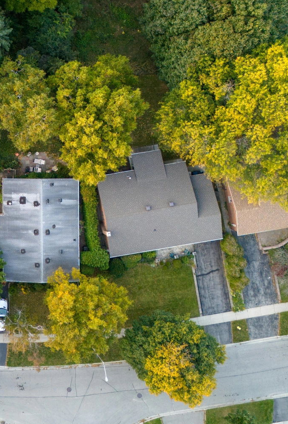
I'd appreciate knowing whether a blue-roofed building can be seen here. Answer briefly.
No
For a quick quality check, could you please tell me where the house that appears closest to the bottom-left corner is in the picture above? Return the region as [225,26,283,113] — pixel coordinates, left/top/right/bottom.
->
[0,178,79,282]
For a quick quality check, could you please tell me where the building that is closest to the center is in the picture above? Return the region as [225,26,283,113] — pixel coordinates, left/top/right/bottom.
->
[95,149,222,258]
